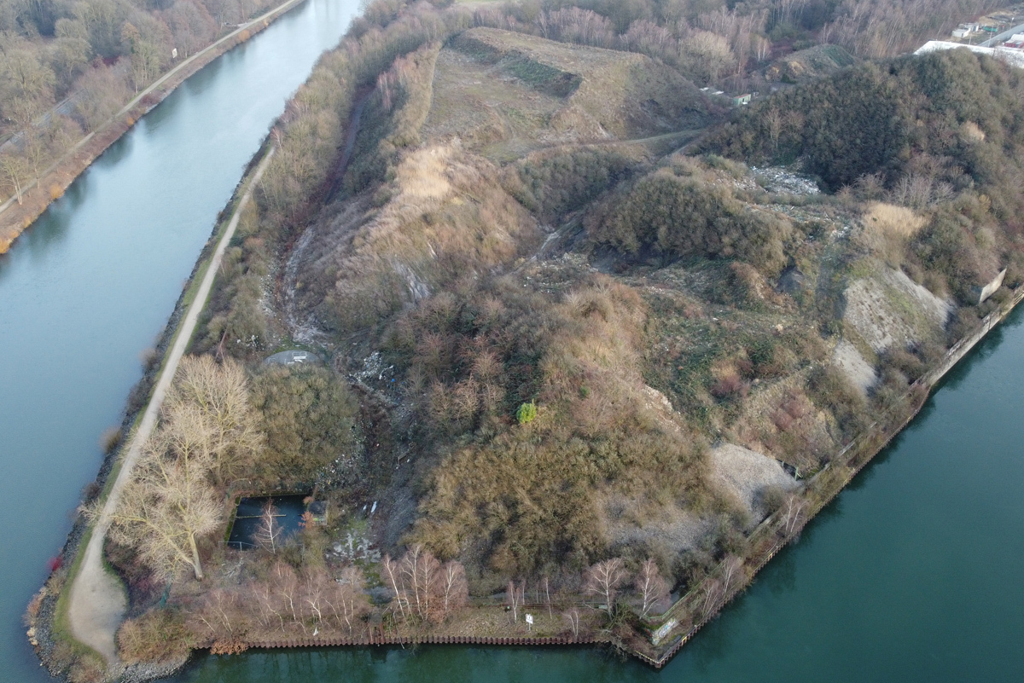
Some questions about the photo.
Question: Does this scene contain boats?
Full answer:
No, there is no boat in the image.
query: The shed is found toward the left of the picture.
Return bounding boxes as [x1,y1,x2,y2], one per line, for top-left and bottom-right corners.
[306,502,331,525]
